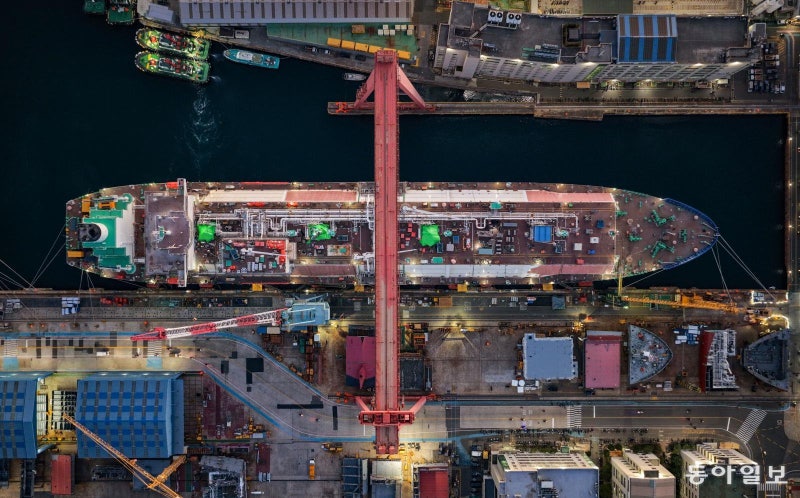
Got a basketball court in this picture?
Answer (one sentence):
No, there appears to be no basketball court in this shot.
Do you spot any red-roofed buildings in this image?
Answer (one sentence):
Yes, a red-roofed building can be made out from above.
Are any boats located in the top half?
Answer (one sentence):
Yes, in the top half there is a boat.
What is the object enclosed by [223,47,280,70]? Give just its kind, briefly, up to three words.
boat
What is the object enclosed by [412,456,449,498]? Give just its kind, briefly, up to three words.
building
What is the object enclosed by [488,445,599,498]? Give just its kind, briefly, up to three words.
building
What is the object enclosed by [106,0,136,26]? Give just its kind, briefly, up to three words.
ship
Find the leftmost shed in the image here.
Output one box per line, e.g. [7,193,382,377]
[0,368,37,459]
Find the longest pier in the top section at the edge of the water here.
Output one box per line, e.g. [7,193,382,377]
[327,101,785,121]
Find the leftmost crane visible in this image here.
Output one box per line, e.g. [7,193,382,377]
[62,415,189,498]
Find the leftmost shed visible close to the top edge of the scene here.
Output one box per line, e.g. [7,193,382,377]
[146,3,175,26]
